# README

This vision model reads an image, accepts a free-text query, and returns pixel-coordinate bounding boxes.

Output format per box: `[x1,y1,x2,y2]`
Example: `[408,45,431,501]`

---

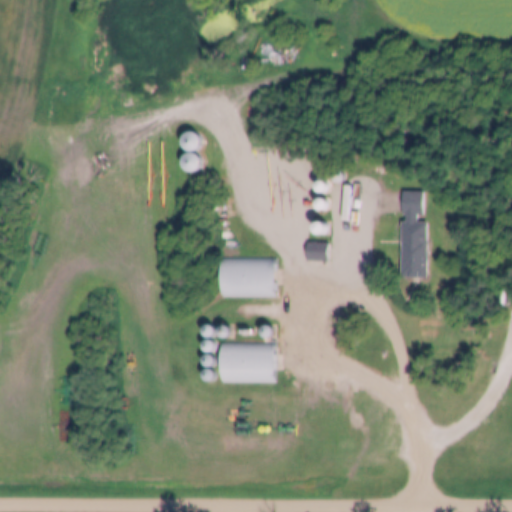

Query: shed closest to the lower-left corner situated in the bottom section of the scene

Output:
[222,344,285,385]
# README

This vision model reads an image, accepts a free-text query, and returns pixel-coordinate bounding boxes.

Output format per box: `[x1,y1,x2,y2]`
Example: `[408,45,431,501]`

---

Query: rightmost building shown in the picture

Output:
[400,190,431,282]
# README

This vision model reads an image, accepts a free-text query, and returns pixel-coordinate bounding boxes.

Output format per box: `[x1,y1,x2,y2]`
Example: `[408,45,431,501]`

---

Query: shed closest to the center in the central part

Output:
[222,259,285,298]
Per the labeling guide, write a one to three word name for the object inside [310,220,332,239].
silo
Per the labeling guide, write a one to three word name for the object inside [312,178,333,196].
silo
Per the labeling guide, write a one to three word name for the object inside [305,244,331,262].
building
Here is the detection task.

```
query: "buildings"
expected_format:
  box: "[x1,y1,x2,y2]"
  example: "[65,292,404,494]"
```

[305,244,331,262]
[400,190,431,282]
[222,259,285,298]
[222,344,285,385]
